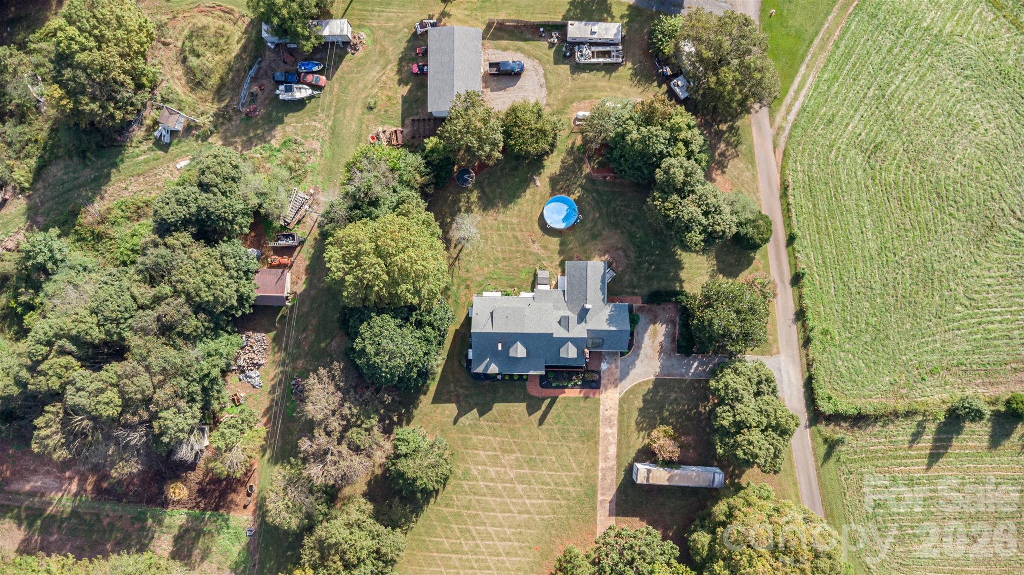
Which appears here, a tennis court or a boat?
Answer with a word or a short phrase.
boat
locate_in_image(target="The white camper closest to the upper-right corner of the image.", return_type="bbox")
[566,23,625,46]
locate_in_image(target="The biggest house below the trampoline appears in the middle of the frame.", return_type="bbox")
[468,261,630,375]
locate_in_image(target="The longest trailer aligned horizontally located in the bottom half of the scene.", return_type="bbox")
[630,460,726,487]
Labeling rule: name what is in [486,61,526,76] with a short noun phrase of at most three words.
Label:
vehicle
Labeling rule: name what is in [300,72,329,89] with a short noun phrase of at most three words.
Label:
car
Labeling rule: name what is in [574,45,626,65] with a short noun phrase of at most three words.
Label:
boat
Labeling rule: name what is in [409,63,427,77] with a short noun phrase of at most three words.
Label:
car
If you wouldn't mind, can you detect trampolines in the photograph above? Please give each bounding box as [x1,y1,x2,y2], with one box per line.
[456,168,475,186]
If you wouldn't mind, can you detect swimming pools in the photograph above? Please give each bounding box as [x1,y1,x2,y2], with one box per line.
[544,195,579,230]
